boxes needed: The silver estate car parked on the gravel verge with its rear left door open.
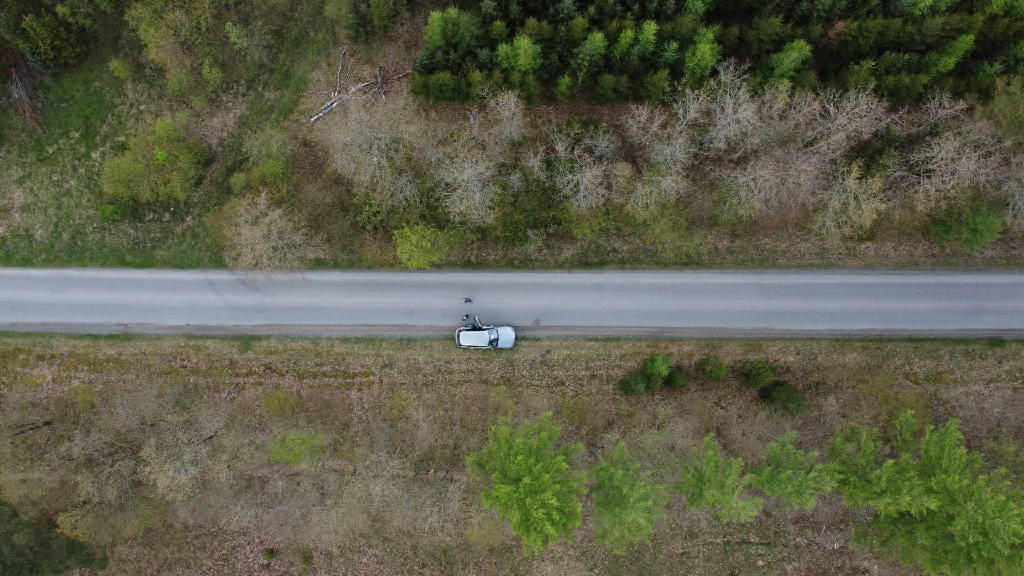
[456,318,515,353]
